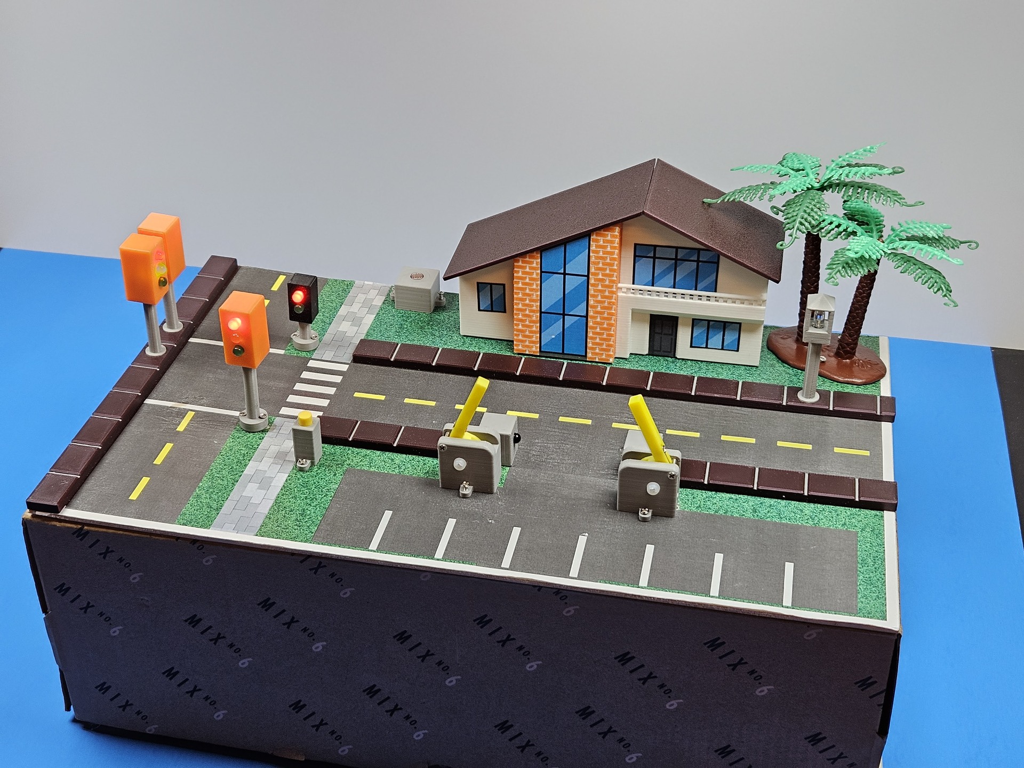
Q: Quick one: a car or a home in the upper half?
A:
home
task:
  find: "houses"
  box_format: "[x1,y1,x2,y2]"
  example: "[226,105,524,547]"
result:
[442,162,786,367]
